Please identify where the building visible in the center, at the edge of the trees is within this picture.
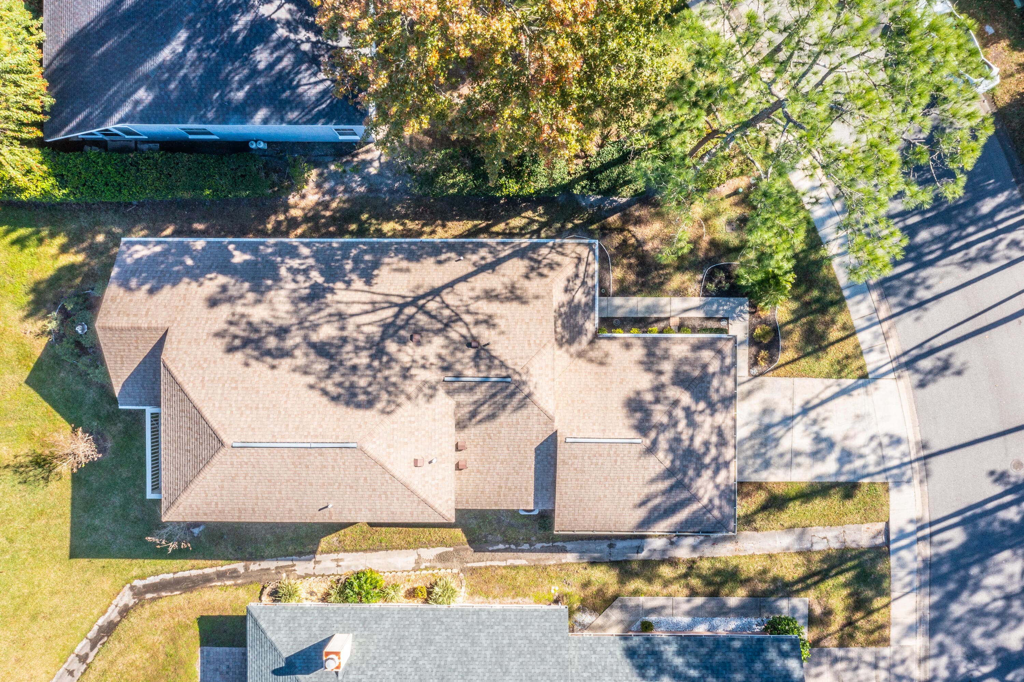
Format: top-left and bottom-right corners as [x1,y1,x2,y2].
[95,236,739,535]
